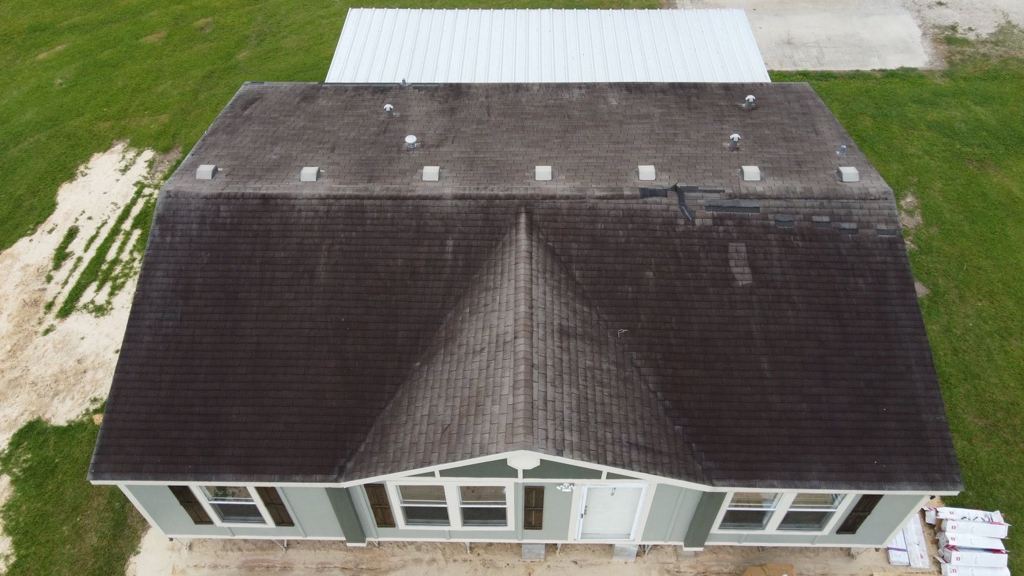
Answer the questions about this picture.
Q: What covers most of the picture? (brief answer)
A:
buildings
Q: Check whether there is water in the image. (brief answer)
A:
No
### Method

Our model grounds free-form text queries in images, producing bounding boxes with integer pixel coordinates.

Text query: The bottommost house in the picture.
[87,73,964,560]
